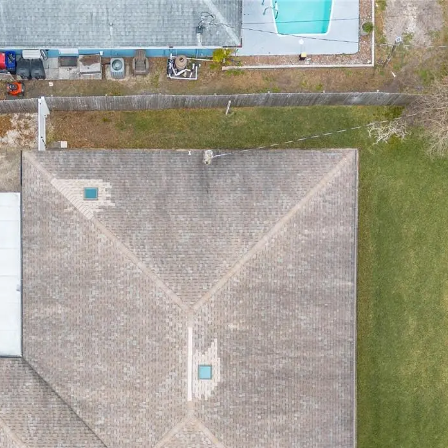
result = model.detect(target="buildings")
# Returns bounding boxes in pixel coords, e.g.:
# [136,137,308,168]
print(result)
[0,0,243,61]
[0,148,359,448]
